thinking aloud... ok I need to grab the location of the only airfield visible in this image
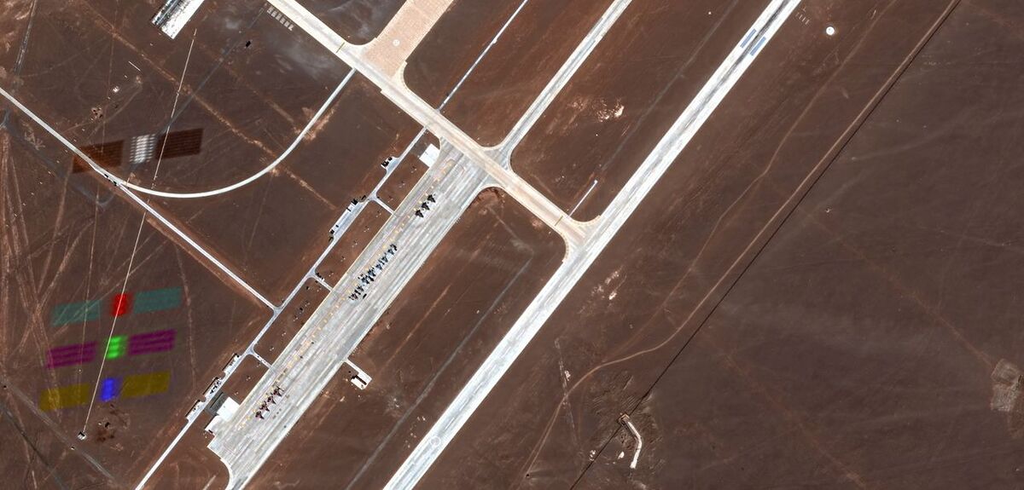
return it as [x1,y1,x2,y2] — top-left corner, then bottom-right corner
[204,0,801,490]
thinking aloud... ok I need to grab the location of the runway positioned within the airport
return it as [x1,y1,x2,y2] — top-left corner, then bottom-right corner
[384,0,801,490]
